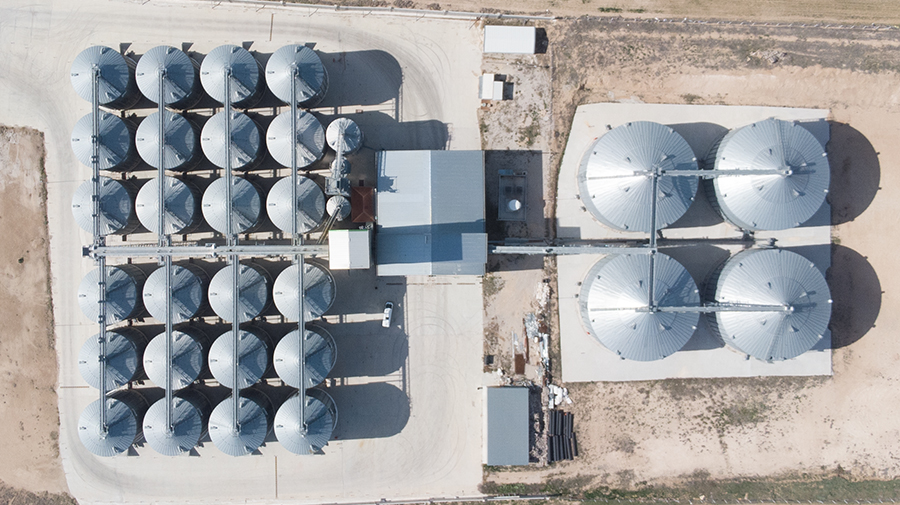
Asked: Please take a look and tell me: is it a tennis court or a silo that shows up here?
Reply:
silo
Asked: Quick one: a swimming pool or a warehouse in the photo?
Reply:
warehouse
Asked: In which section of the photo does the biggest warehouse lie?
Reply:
center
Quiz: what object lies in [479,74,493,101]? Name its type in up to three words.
building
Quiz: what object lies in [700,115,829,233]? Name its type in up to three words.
silo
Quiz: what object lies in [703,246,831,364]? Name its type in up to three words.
silo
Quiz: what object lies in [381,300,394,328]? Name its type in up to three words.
vehicle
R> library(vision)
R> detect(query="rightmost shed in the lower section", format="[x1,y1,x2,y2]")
[480,384,529,465]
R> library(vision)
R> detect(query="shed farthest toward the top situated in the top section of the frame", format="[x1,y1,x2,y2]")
[484,26,535,55]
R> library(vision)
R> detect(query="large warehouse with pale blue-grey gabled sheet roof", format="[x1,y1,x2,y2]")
[375,149,487,276]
